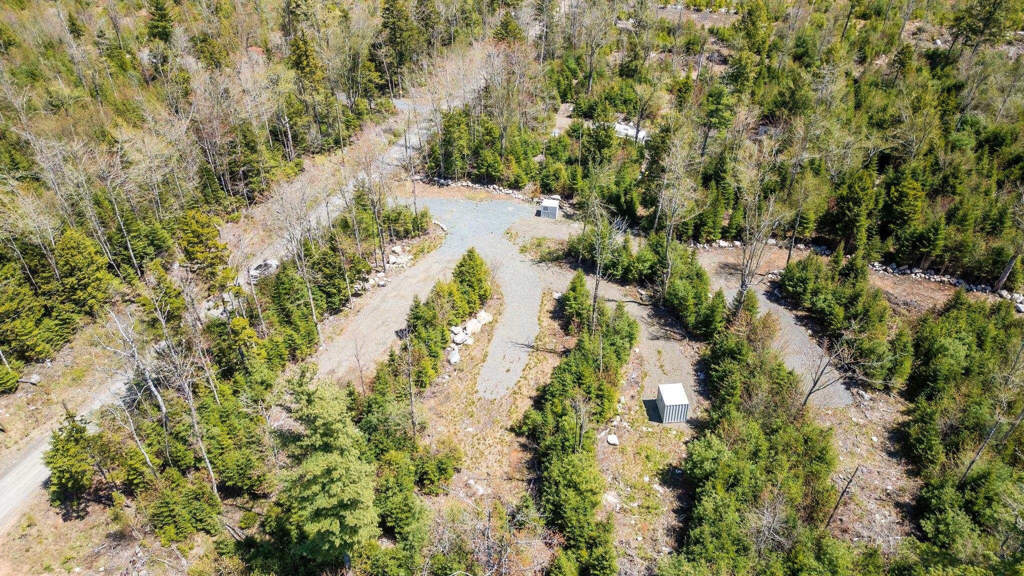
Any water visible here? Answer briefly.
No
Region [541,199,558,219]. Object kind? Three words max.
building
